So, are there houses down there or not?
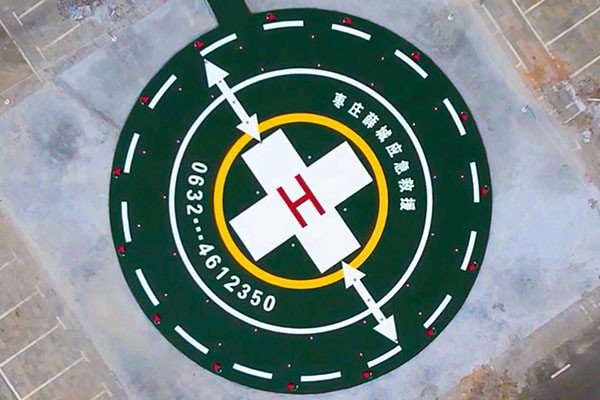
No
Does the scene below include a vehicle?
No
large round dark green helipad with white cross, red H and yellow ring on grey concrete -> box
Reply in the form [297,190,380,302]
[108,0,493,395]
